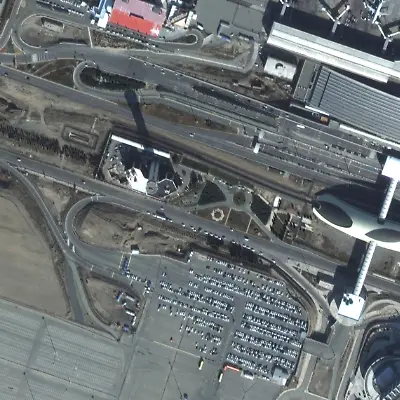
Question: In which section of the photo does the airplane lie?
top right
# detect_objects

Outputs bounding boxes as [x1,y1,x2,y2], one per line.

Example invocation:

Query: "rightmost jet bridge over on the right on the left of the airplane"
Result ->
[322,4,350,33]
